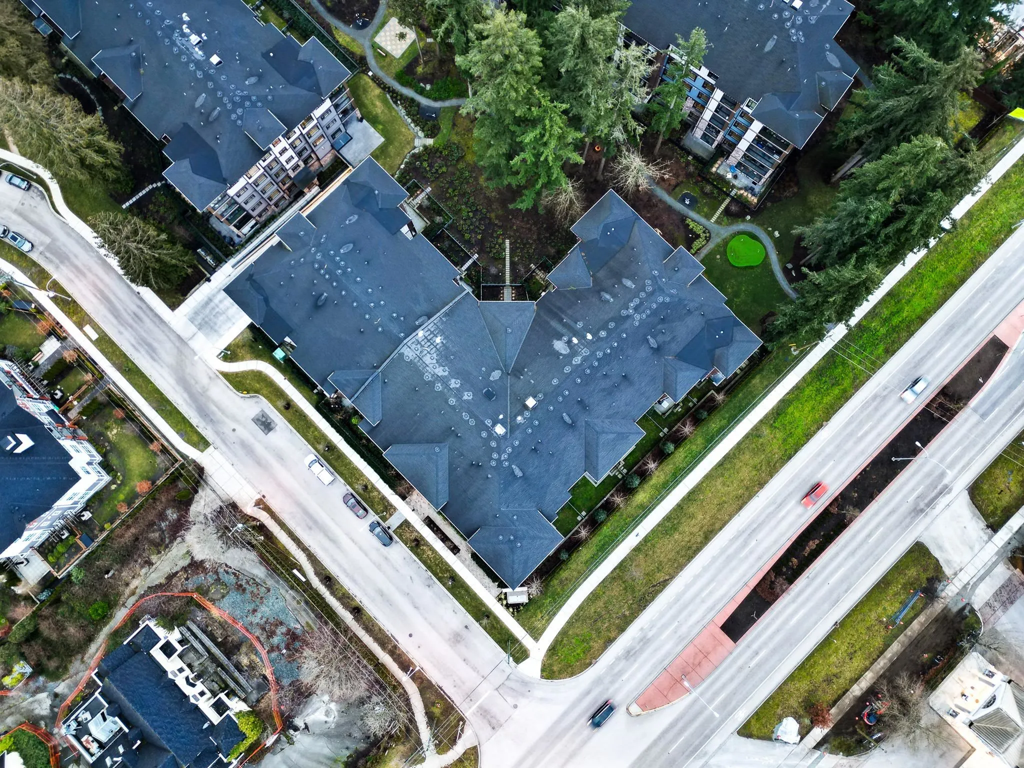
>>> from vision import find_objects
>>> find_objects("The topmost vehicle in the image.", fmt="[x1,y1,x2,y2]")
[0,167,32,191]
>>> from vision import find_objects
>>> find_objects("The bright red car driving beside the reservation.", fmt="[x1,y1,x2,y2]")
[801,479,832,510]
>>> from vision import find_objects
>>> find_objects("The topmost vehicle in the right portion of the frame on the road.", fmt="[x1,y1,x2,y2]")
[900,373,933,405]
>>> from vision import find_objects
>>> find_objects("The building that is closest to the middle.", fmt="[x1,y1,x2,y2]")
[223,155,764,603]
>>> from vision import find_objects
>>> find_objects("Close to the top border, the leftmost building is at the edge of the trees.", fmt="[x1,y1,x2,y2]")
[21,0,373,245]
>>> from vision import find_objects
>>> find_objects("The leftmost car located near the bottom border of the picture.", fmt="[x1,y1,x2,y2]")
[587,698,618,733]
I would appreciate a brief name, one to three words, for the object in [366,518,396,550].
car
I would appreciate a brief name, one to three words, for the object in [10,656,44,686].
shed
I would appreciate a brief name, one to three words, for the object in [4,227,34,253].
car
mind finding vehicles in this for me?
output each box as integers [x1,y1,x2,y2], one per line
[801,479,832,510]
[0,167,32,191]
[4,227,34,253]
[366,518,396,550]
[587,698,618,733]
[900,373,933,405]
[300,451,338,487]
[863,700,892,729]
[339,489,371,521]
